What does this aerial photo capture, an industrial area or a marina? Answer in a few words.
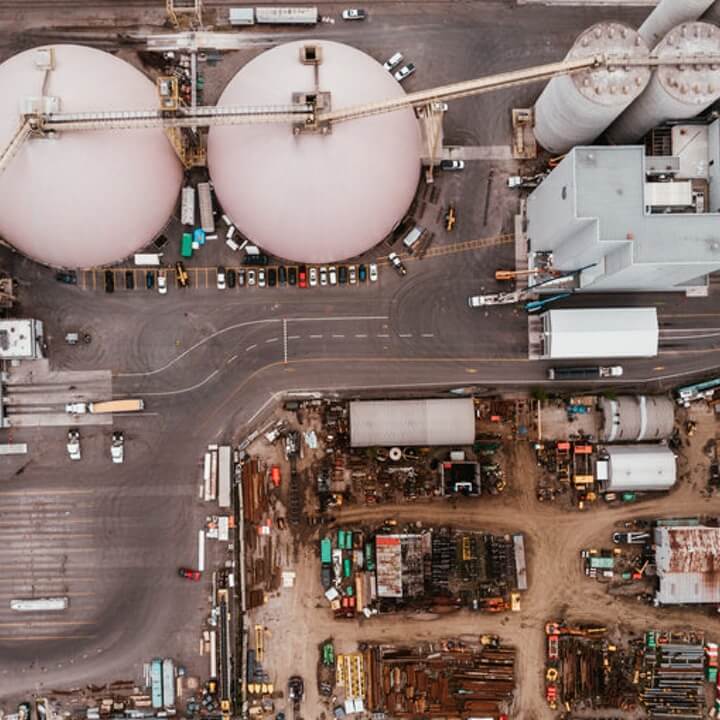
industrial area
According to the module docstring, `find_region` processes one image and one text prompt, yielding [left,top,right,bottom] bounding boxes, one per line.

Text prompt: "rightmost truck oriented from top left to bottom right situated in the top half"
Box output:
[387,250,409,277]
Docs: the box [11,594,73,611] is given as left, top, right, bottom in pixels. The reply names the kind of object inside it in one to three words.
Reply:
trailer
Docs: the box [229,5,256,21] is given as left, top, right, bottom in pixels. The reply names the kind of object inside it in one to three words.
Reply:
rail car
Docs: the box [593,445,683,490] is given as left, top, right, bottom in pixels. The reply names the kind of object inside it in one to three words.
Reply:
shed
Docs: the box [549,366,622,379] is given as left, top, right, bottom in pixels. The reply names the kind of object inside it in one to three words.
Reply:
vehicle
